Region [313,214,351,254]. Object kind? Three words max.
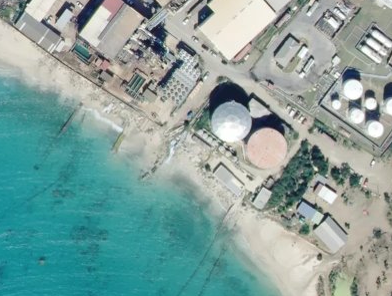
barn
